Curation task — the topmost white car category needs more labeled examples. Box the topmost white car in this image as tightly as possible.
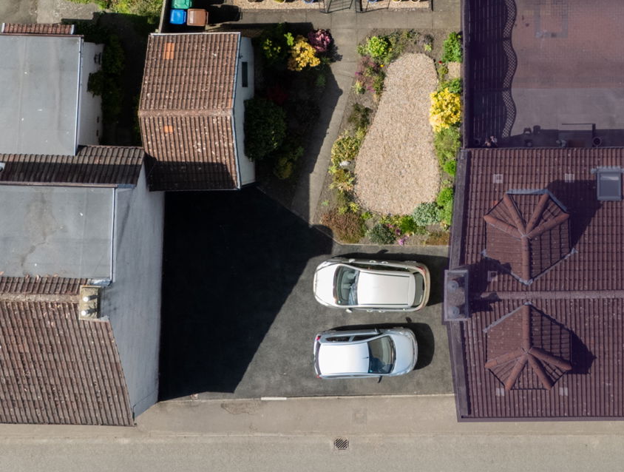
[312,256,431,319]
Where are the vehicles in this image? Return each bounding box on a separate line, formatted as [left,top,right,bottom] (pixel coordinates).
[312,256,431,319]
[310,326,418,388]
